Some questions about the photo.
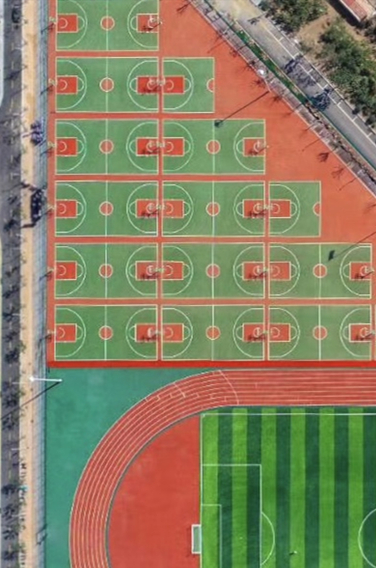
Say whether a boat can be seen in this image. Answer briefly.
No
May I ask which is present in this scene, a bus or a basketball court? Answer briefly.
basketball court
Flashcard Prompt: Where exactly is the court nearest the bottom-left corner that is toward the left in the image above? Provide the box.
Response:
[54,304,158,360]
